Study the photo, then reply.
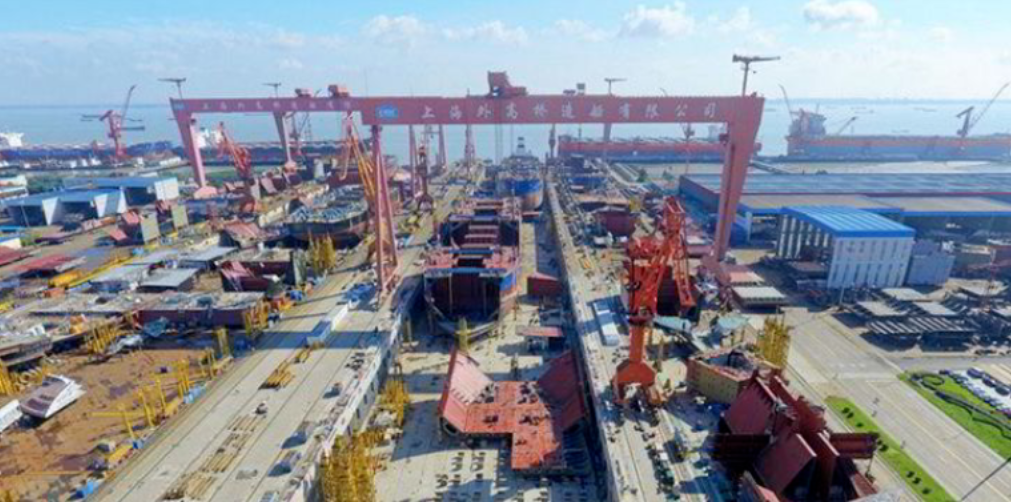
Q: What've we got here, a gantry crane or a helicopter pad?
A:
gantry crane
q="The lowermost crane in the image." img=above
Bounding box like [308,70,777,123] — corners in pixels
[606,194,700,406]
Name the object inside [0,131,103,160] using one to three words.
ship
